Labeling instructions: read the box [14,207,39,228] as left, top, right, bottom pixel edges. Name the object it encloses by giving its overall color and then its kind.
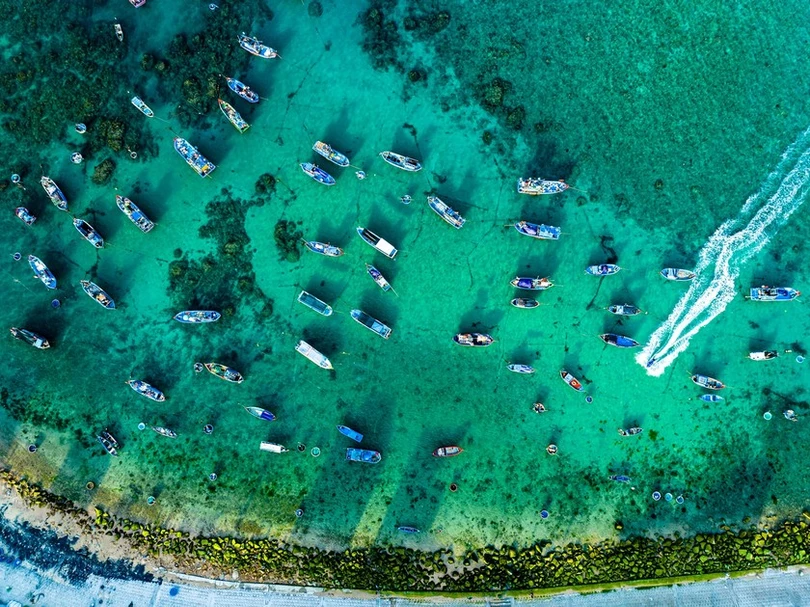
blue boat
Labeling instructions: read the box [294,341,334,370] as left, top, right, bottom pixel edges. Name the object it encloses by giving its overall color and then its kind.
white boat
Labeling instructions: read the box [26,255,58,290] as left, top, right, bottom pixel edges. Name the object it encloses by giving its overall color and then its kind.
blue boat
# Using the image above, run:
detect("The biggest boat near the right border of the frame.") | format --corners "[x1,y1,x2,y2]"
[747,283,806,301]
